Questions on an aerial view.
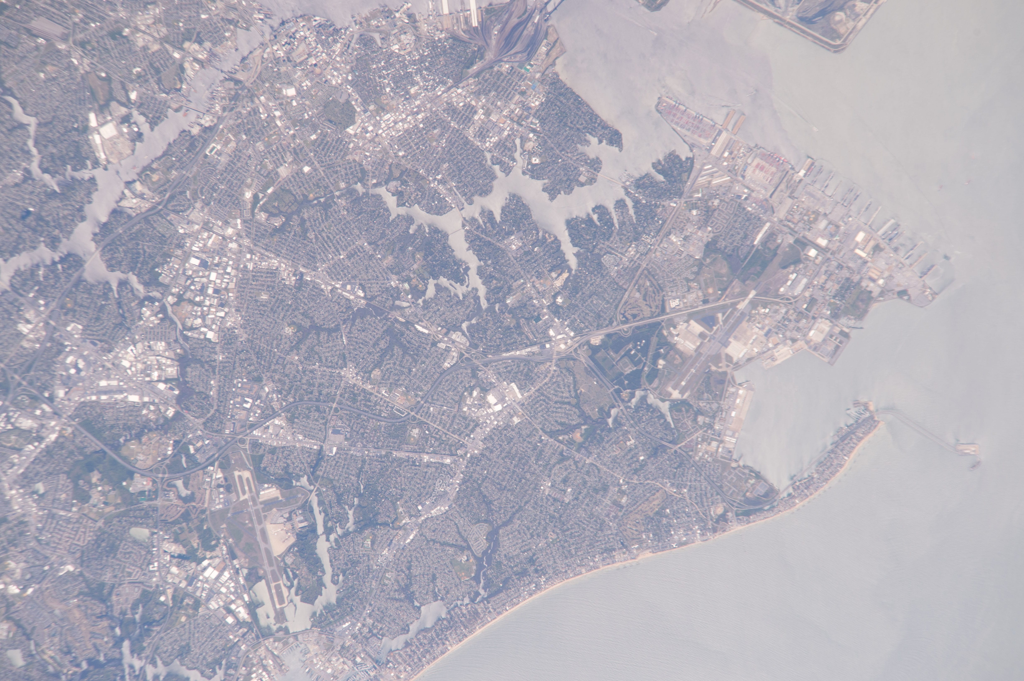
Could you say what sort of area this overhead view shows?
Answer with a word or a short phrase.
port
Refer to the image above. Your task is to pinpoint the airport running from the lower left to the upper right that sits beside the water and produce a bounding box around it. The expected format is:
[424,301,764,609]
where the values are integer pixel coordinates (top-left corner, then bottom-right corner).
[653,271,770,411]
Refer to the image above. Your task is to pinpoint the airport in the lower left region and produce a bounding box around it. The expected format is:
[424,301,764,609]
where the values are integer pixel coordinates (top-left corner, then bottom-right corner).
[210,451,309,625]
